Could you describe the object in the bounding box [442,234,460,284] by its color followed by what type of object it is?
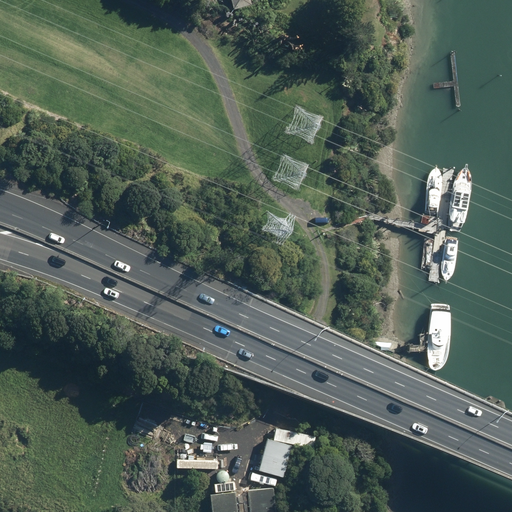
white boat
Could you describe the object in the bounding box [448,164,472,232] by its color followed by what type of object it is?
white boat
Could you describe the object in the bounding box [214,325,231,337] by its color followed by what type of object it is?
blue vehicle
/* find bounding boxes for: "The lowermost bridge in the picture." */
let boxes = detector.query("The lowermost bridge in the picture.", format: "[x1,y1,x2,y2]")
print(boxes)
[222,296,512,488]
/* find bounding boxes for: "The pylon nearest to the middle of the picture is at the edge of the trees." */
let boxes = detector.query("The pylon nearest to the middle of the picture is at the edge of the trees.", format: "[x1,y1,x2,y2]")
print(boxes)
[260,208,300,249]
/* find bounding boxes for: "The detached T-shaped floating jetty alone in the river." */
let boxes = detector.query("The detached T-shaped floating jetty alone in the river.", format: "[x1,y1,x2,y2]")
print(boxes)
[433,49,462,110]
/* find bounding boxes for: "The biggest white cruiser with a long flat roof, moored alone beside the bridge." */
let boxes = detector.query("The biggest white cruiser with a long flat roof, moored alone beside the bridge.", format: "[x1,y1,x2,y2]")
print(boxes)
[426,300,452,378]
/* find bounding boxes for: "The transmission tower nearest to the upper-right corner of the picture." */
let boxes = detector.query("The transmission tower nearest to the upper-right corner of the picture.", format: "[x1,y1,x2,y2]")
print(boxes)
[285,104,326,147]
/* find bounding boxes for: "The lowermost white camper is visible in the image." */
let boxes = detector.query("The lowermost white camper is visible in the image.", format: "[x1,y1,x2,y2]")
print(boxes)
[250,473,280,486]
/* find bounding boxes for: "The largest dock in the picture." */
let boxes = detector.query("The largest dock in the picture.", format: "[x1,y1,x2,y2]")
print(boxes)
[420,168,456,284]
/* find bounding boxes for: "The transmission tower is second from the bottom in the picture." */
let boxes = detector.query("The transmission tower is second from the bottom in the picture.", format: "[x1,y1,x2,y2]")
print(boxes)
[272,152,312,192]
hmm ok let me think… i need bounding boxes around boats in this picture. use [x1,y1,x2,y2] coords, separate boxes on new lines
[426,300,452,378]
[422,238,436,270]
[426,166,444,218]
[448,164,472,232]
[442,234,460,284]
